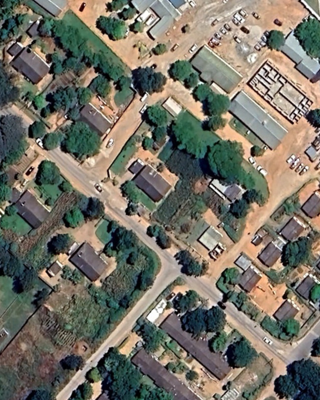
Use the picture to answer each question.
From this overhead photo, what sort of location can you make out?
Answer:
residential area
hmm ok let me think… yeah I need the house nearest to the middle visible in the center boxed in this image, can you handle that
[132,165,172,202]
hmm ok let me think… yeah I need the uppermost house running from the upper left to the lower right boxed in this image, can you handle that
[156,0,187,24]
